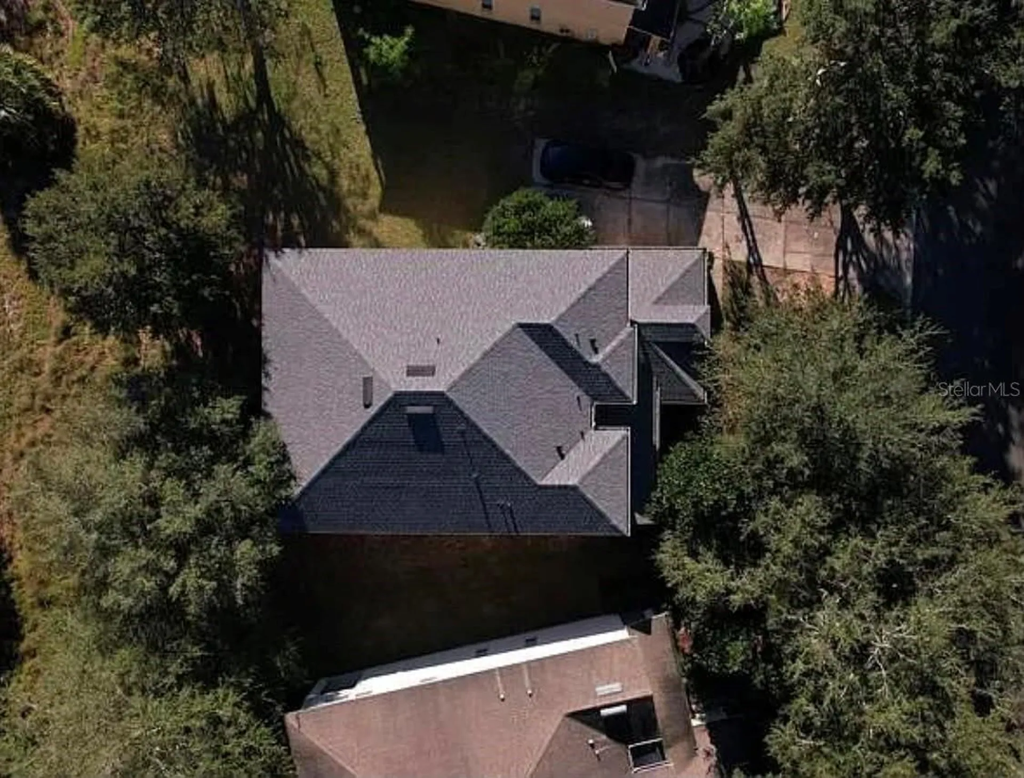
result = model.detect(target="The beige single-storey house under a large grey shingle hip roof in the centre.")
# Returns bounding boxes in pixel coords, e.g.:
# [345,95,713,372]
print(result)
[261,246,714,537]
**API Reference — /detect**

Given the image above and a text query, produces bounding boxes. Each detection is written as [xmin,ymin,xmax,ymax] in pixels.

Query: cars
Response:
[538,133,640,186]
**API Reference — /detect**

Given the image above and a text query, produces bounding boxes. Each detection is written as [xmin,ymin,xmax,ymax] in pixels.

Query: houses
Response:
[274,599,734,778]
[413,0,680,70]
[261,246,714,537]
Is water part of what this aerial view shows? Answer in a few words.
No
